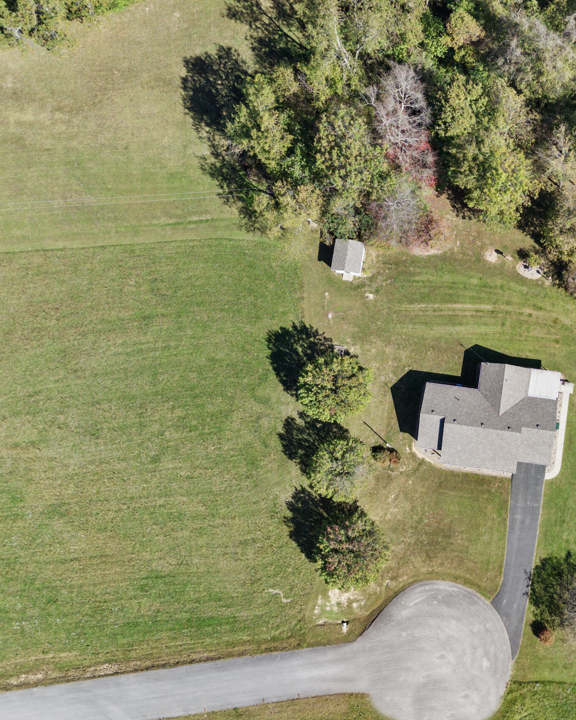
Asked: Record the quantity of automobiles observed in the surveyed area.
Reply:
0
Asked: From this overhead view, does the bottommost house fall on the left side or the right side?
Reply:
right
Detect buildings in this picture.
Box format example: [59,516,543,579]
[416,362,561,473]
[331,239,366,282]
